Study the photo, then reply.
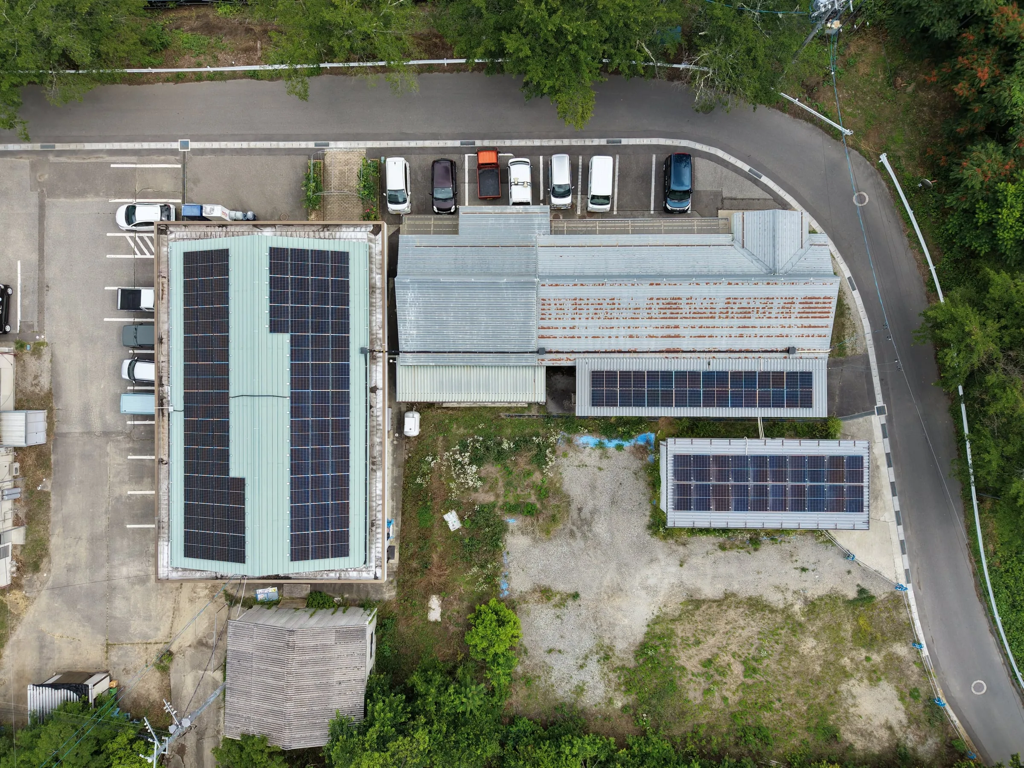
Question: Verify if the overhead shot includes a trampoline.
No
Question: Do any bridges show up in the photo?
No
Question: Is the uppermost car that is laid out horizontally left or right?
left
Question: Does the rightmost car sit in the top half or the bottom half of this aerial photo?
top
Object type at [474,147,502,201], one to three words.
truck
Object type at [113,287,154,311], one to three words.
truck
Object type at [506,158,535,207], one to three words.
car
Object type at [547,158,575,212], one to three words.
car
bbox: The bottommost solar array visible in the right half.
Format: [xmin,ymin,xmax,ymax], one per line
[673,453,866,512]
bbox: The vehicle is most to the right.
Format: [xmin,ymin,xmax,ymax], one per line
[662,155,695,214]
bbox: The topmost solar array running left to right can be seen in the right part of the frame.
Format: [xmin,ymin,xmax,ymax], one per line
[591,369,815,410]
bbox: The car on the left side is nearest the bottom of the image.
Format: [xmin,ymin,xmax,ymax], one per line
[120,392,154,415]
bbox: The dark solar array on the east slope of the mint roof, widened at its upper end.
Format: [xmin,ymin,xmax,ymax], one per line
[265,247,352,562]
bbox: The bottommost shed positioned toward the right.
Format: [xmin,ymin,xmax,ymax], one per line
[655,437,871,531]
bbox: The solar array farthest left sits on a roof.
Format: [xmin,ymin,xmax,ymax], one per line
[181,248,248,564]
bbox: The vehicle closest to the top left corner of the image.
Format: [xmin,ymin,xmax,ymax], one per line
[115,200,182,233]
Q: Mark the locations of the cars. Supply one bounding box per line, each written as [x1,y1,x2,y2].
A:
[662,155,695,214]
[430,162,458,213]
[384,161,412,215]
[506,158,535,207]
[0,283,14,334]
[547,158,575,212]
[121,356,154,385]
[120,392,154,415]
[115,200,182,233]
[119,322,154,350]
[587,157,615,213]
